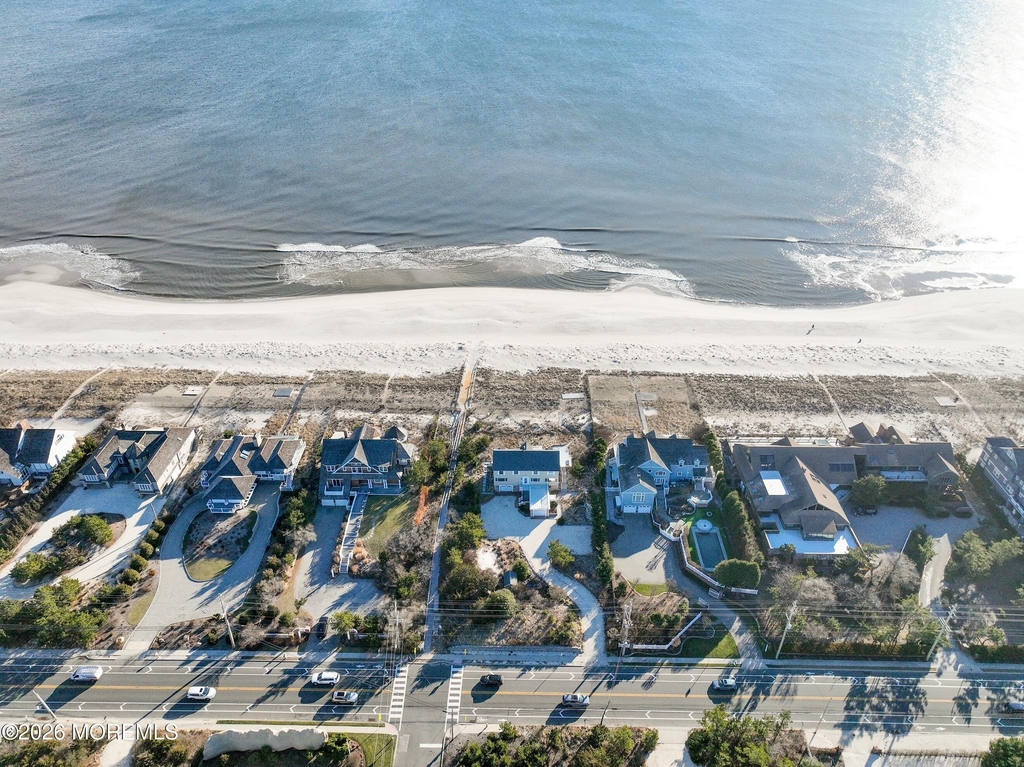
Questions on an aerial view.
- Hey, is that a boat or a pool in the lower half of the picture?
pool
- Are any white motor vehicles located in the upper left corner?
No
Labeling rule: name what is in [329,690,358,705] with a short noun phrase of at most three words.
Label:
car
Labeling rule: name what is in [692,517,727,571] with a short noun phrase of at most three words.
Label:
swimming pool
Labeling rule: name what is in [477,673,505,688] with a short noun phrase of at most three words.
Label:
car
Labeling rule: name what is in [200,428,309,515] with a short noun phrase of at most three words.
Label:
house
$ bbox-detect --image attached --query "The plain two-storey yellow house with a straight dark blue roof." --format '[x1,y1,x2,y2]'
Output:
[493,439,572,515]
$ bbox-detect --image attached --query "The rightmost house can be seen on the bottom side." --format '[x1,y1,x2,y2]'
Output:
[972,436,1024,531]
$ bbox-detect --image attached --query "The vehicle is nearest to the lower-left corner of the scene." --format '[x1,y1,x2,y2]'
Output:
[70,665,104,683]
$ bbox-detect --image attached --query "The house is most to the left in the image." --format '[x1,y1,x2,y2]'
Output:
[0,414,82,501]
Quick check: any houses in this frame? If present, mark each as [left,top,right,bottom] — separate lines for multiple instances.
[0,414,82,501]
[200,428,309,515]
[311,416,426,506]
[493,439,572,515]
[78,427,193,505]
[972,436,1024,531]
[604,426,721,512]
[725,414,970,561]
